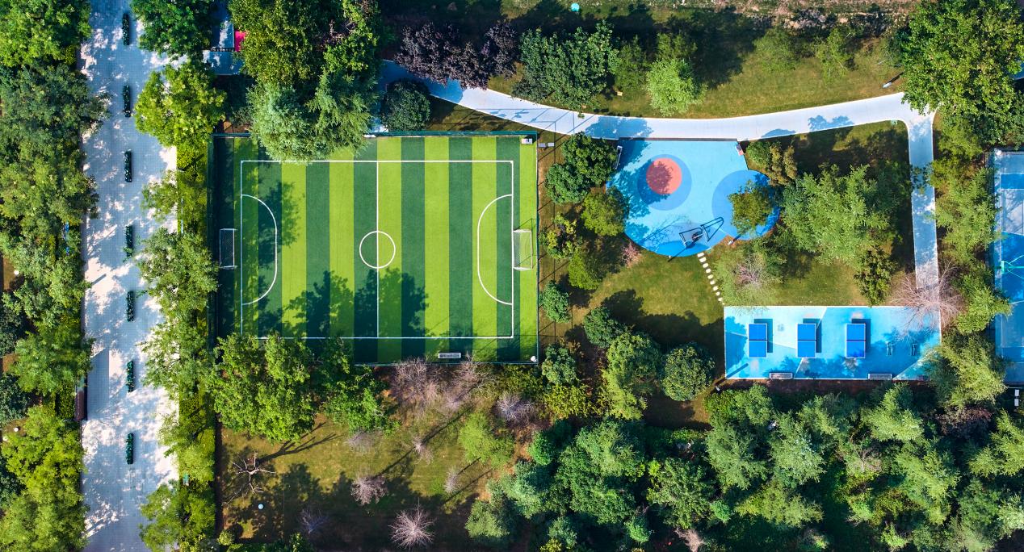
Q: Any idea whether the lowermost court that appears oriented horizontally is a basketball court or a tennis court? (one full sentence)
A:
Specifically, the lowermost court that appears oriented horizontally is a tennis court.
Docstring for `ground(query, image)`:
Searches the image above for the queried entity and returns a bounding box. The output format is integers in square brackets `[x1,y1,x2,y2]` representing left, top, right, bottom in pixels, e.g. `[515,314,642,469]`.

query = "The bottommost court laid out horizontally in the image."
[724,306,941,379]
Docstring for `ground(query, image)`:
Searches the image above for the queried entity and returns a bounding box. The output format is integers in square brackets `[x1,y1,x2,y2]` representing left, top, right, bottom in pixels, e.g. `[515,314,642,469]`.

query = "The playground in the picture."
[607,137,780,257]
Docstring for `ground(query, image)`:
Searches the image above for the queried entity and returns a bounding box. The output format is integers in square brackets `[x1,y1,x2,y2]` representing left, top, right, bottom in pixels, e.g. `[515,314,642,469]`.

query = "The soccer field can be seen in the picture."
[216,134,537,364]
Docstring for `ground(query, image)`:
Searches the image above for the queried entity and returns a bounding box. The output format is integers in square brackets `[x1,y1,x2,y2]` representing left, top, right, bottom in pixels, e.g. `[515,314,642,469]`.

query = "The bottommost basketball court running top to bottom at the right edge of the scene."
[993,151,1024,383]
